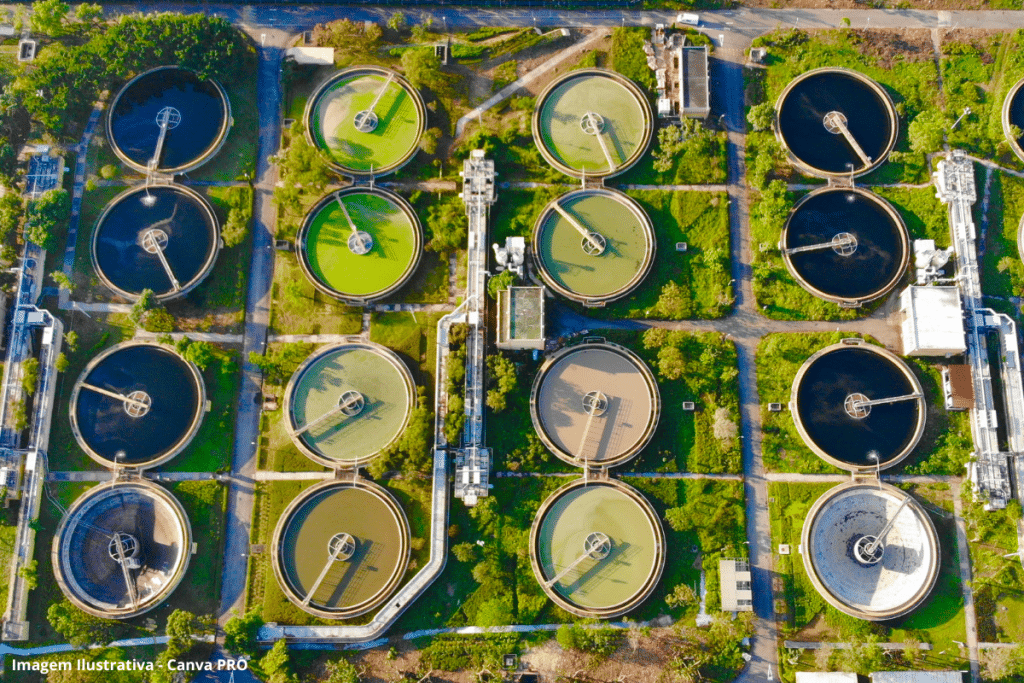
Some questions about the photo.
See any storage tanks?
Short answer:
Yes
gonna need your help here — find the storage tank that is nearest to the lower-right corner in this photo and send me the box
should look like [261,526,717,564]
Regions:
[795,468,941,619]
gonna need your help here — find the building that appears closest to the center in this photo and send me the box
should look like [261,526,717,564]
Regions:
[497,285,548,350]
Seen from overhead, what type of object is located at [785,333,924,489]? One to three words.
storage tank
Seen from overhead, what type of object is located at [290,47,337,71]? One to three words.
shed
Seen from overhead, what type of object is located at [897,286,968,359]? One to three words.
building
